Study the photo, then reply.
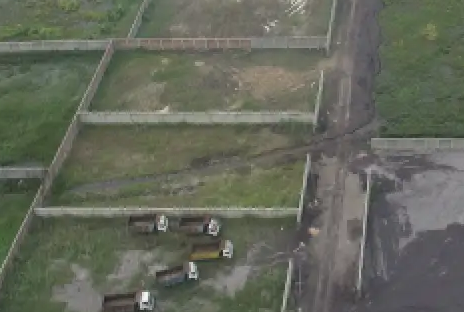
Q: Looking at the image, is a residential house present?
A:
No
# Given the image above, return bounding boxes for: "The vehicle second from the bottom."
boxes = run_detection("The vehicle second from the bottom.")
[151,257,199,285]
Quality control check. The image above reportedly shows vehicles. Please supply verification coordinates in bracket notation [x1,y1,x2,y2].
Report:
[187,236,234,260]
[151,257,199,285]
[123,212,169,234]
[97,288,157,312]
[175,213,221,237]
